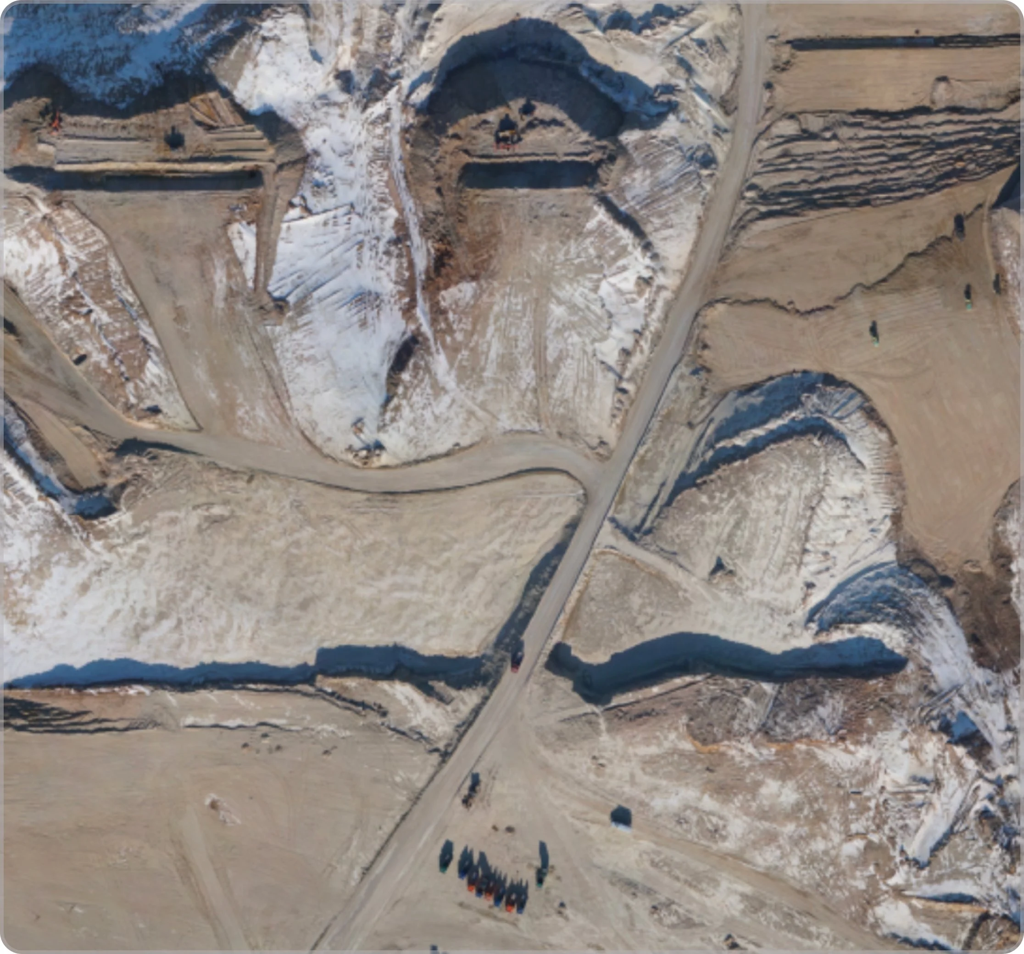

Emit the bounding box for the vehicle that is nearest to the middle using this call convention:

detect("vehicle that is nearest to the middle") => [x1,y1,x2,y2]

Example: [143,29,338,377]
[512,652,524,674]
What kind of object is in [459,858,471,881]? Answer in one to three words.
vehicle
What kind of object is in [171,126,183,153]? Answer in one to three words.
vehicle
